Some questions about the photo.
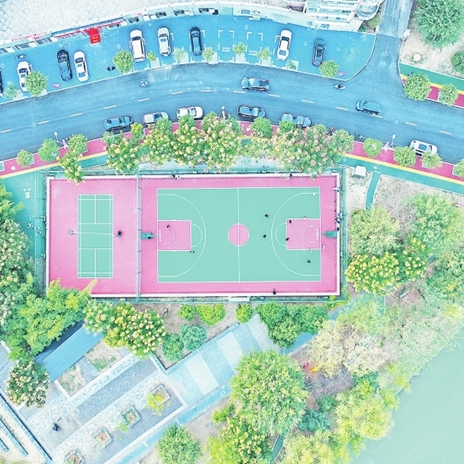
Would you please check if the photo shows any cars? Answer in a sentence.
Yes, the photo shows a car.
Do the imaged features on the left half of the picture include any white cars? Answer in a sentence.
Yes, on the left half of the picture there is a white car.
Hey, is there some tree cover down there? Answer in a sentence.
Yes, tree cover shows up in the scene.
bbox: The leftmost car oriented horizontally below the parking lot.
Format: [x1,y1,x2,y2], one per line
[103,115,134,131]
